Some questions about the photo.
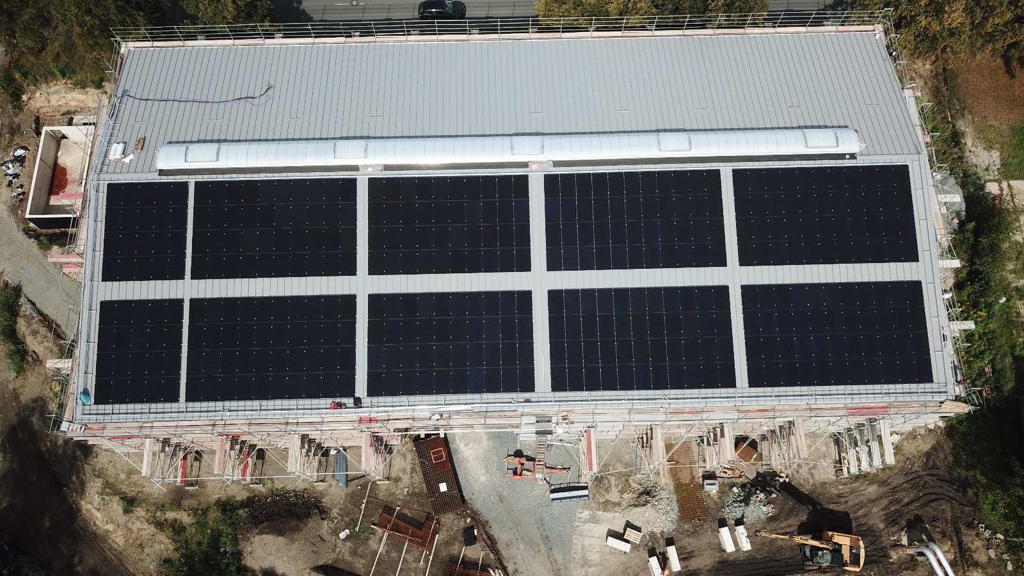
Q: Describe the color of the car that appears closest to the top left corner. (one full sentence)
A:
The color of the car that appears closest to the top left corner is black.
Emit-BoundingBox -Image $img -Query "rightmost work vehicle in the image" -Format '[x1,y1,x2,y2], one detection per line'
[749,525,866,572]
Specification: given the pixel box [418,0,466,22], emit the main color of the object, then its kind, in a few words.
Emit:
black car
